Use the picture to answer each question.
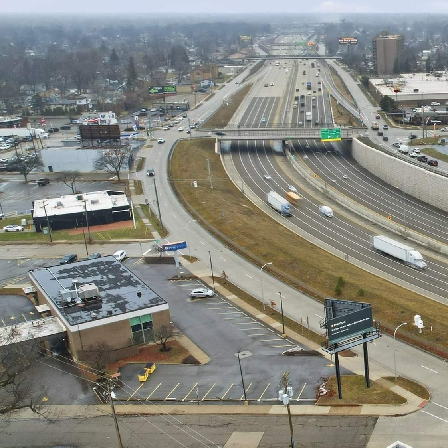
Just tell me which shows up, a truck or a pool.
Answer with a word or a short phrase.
truck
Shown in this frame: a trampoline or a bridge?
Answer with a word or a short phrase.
bridge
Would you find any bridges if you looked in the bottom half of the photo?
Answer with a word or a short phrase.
No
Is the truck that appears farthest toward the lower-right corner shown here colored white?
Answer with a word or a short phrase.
Yes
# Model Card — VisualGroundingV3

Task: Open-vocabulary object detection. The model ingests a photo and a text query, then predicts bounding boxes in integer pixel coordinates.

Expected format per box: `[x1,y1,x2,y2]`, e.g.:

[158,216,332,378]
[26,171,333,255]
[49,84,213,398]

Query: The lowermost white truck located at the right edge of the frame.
[369,236,429,272]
